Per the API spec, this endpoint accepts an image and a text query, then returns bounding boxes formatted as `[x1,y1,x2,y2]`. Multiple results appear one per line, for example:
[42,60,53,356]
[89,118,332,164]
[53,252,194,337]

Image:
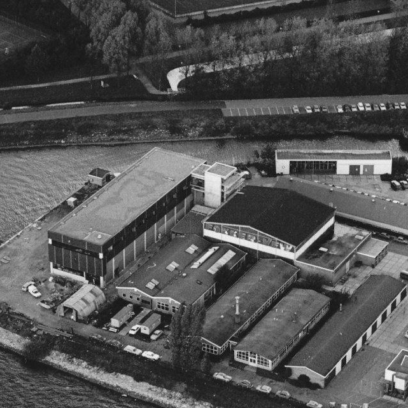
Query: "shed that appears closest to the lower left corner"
[57,289,99,320]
